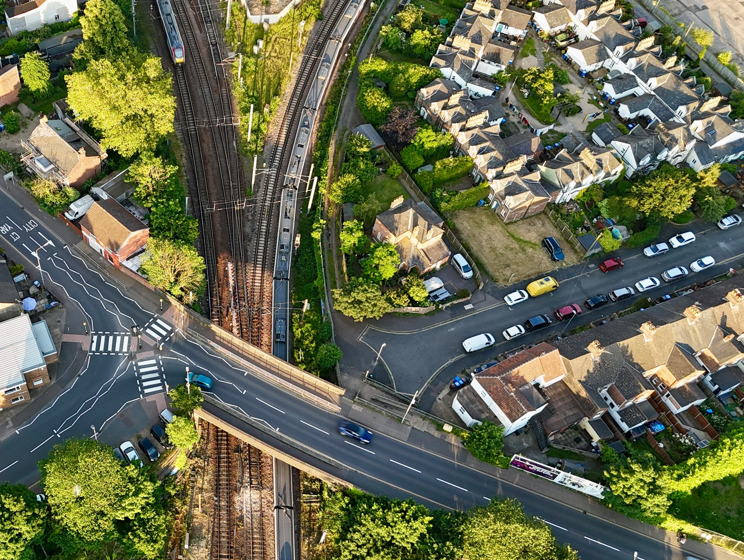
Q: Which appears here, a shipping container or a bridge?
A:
bridge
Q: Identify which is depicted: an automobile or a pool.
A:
automobile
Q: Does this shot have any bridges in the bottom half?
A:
Yes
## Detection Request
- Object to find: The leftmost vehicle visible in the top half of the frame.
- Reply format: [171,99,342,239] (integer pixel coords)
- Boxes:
[65,194,94,221]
